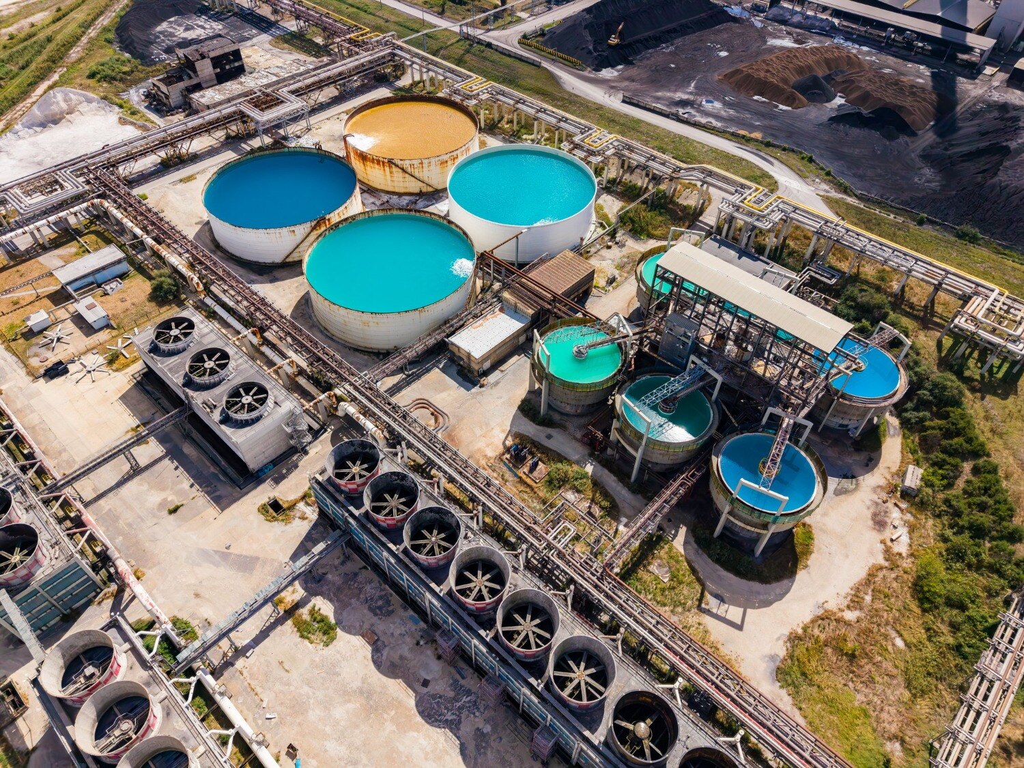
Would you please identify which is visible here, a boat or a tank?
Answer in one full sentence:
It is a tank that can be seen here.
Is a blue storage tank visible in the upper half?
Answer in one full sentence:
Yes, I can see a blue storage tank in the upper half.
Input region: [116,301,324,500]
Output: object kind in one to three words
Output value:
cooling tower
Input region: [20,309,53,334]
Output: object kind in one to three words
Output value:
shed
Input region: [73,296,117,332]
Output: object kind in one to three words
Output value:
shed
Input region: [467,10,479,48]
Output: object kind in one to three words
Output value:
pylon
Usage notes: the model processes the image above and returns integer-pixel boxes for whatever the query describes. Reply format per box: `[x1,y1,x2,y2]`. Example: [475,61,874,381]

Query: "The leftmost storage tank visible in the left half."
[202,147,369,267]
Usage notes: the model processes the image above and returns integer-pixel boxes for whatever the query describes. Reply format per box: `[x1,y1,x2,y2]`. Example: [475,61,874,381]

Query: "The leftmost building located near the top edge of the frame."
[149,32,250,106]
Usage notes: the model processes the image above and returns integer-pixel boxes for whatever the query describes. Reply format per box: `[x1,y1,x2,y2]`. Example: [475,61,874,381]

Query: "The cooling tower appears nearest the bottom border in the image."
[25,612,230,768]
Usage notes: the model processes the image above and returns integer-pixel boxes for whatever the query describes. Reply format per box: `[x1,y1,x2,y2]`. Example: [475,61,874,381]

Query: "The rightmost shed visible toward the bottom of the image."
[902,466,927,502]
